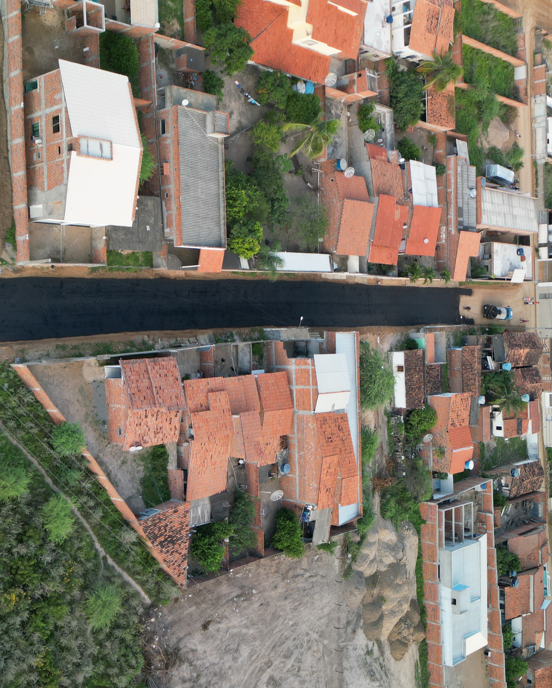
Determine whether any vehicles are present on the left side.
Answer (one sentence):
No, no vehicle is visible on the left side.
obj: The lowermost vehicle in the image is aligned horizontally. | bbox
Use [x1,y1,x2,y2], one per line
[475,304,515,323]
